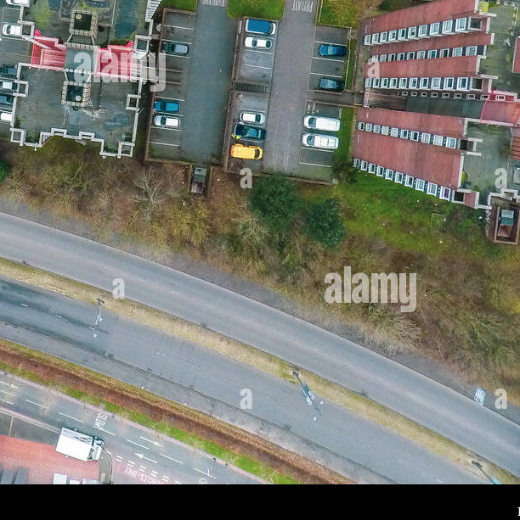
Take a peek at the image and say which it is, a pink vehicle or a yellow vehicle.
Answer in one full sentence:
Looking from above, you can make out a yellow vehicle.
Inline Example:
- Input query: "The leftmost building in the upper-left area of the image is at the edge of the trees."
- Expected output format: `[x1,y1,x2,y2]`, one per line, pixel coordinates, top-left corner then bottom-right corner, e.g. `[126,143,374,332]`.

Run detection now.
[9,0,162,158]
